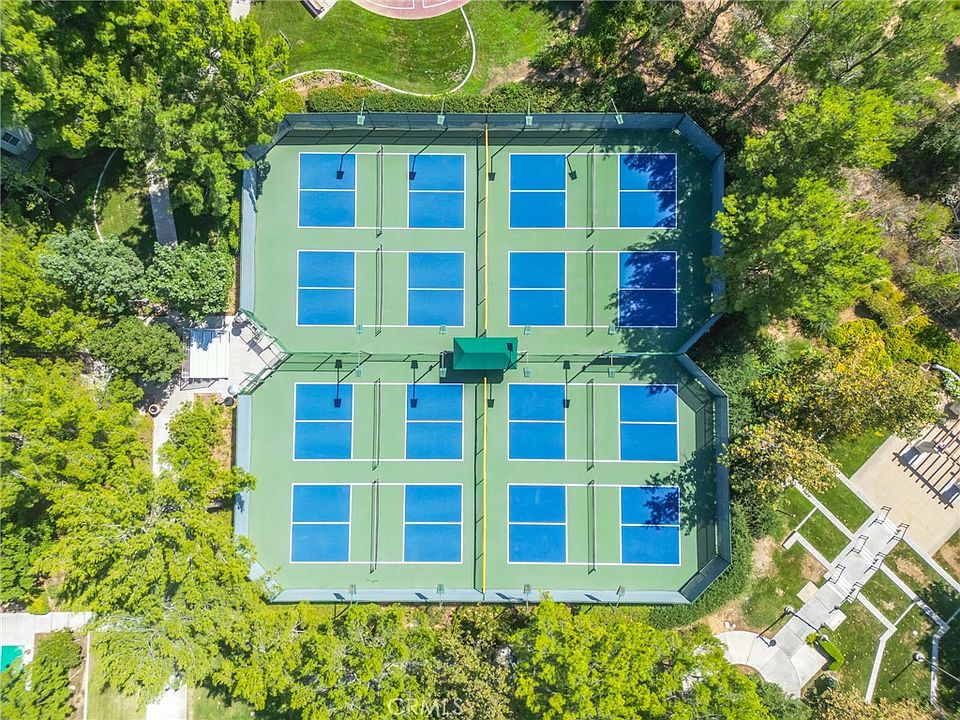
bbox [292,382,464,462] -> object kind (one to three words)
sports court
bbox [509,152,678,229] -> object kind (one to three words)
sports court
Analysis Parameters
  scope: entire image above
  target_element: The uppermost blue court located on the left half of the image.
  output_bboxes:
[297,152,466,229]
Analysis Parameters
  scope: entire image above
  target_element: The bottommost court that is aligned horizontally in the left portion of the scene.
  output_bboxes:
[290,483,463,564]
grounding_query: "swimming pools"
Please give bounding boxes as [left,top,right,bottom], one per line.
[0,641,29,700]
